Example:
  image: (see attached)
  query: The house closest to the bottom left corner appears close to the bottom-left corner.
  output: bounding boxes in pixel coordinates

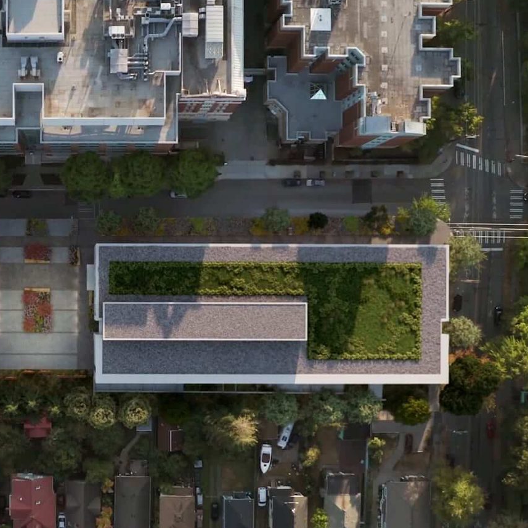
[9,470,56,528]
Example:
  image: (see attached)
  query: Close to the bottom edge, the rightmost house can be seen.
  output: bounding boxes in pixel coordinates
[375,473,429,528]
